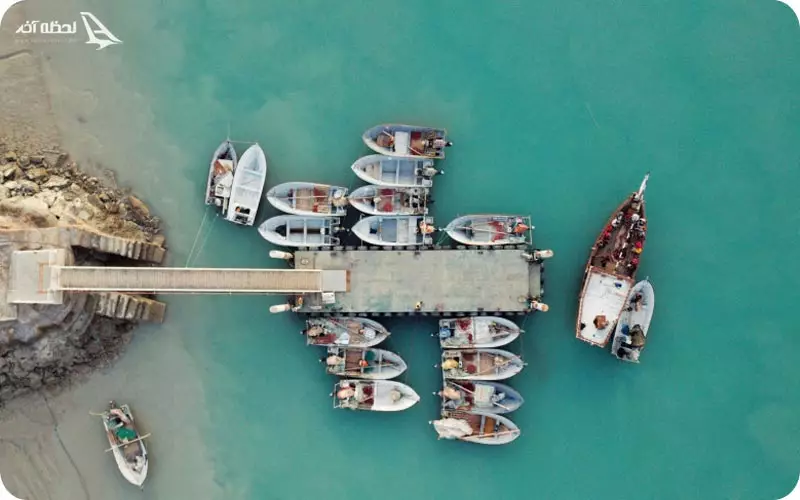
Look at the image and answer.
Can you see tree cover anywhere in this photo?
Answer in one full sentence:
No, the picture contains no tree cover.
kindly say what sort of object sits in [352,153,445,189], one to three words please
boat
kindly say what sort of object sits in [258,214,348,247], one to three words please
boat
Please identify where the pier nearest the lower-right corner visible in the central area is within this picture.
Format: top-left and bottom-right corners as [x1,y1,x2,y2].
[279,246,545,316]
